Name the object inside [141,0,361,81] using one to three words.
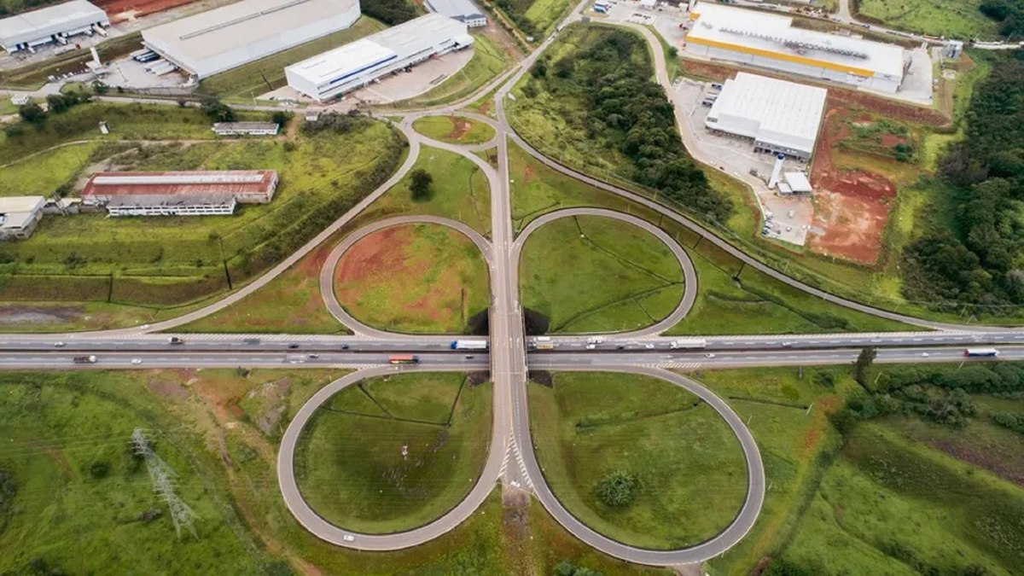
building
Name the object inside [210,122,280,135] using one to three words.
house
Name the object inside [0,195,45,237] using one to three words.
building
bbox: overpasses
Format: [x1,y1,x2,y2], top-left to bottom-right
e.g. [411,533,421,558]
[489,301,529,384]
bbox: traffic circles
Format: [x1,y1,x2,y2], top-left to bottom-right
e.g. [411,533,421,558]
[402,111,497,149]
